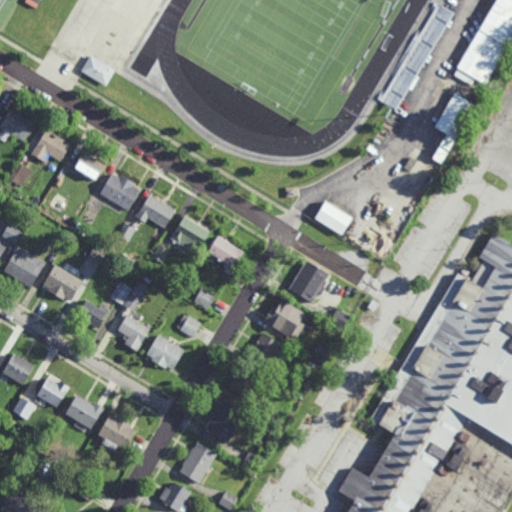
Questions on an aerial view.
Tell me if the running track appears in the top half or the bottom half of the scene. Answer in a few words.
top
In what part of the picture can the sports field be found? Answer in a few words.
top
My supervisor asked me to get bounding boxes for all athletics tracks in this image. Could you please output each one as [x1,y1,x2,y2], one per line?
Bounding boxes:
[132,0,427,155]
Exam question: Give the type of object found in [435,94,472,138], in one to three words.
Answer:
shed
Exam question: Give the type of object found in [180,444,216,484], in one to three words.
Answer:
house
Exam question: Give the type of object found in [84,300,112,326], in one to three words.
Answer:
house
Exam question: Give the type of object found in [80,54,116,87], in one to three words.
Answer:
building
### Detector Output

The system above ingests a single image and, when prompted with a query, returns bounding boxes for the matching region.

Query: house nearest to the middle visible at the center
[208,237,244,270]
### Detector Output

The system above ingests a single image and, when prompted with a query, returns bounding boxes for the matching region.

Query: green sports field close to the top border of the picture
[175,0,407,132]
